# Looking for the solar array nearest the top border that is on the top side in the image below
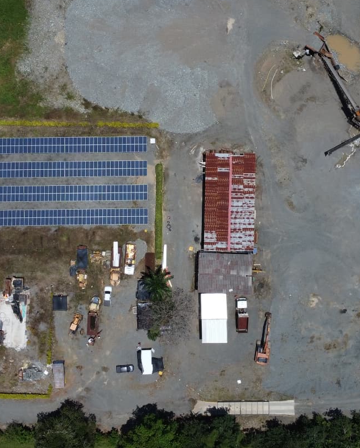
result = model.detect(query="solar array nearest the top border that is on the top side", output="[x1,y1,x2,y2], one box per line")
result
[0,137,147,153]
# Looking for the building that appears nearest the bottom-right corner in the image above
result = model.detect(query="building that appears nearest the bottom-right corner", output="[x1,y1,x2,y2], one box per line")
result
[201,293,228,343]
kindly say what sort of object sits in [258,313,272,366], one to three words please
vehicle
